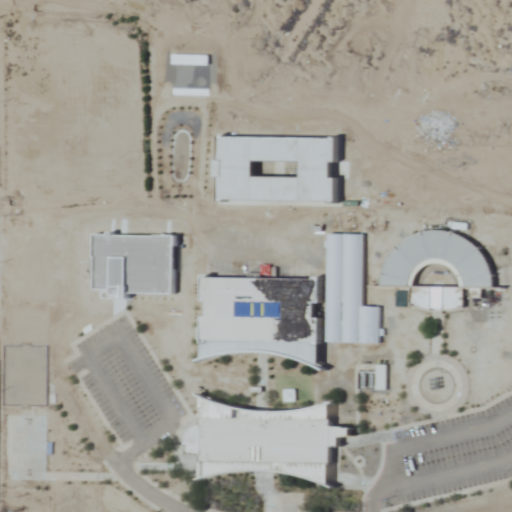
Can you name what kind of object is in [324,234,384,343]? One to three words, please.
building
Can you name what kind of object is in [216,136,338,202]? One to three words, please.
building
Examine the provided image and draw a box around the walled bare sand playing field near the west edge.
[5,344,48,405]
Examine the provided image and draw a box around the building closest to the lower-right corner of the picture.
[356,364,389,392]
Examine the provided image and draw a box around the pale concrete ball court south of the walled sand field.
[8,415,46,480]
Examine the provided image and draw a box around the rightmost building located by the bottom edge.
[193,394,350,488]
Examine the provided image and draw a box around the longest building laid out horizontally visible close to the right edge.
[380,230,495,286]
